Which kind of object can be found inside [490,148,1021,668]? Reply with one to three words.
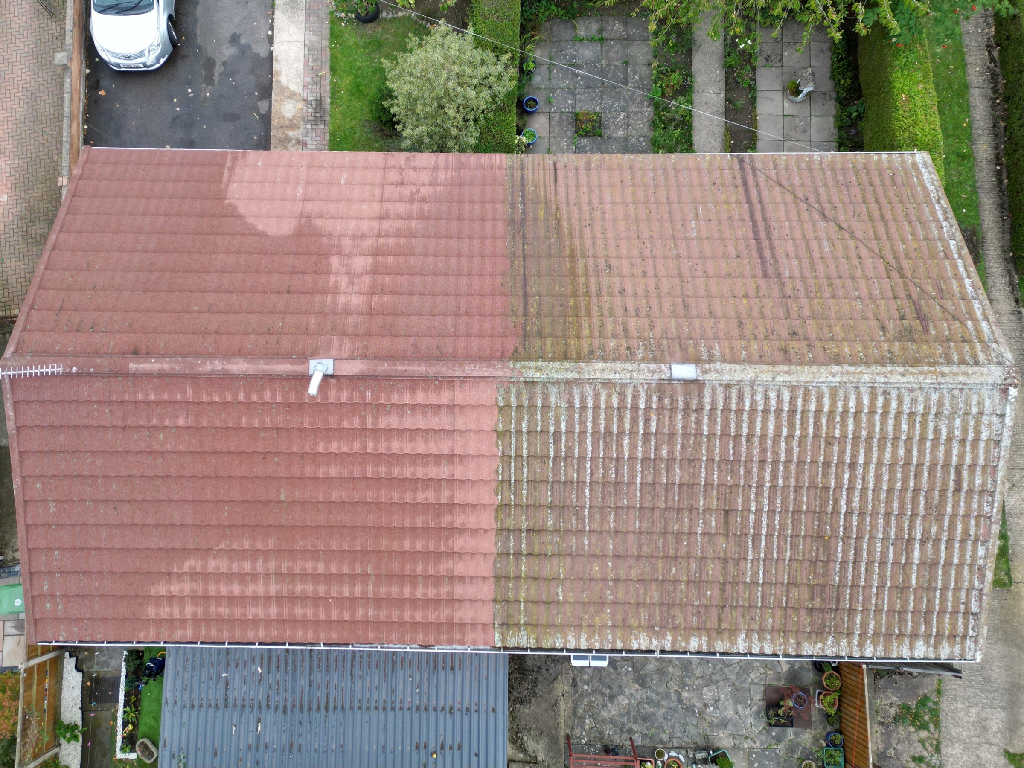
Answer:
house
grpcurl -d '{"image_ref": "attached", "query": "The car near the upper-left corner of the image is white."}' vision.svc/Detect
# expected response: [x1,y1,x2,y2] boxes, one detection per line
[91,0,178,72]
